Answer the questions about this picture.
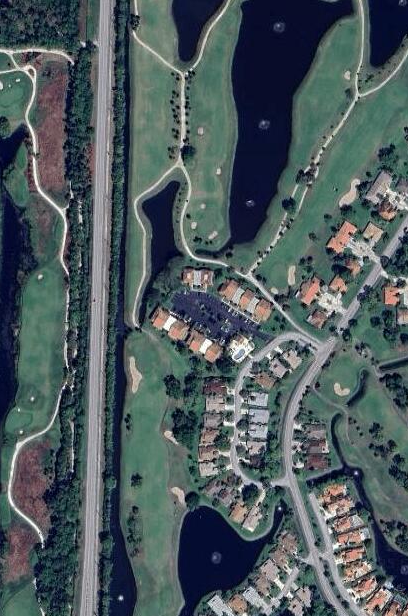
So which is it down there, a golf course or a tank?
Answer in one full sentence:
Of the two, only a golf course appears.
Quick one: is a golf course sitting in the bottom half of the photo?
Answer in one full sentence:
Yes, the scene does show a golf course in the bottom half of the photo.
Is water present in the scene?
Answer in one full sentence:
Yes, there is water in the image.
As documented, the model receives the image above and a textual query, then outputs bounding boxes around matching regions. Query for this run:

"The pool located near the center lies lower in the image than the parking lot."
[231,345,250,362]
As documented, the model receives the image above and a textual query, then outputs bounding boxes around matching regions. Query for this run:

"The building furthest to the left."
[151,307,189,337]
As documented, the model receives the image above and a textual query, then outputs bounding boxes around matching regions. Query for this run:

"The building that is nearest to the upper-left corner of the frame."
[183,268,214,286]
